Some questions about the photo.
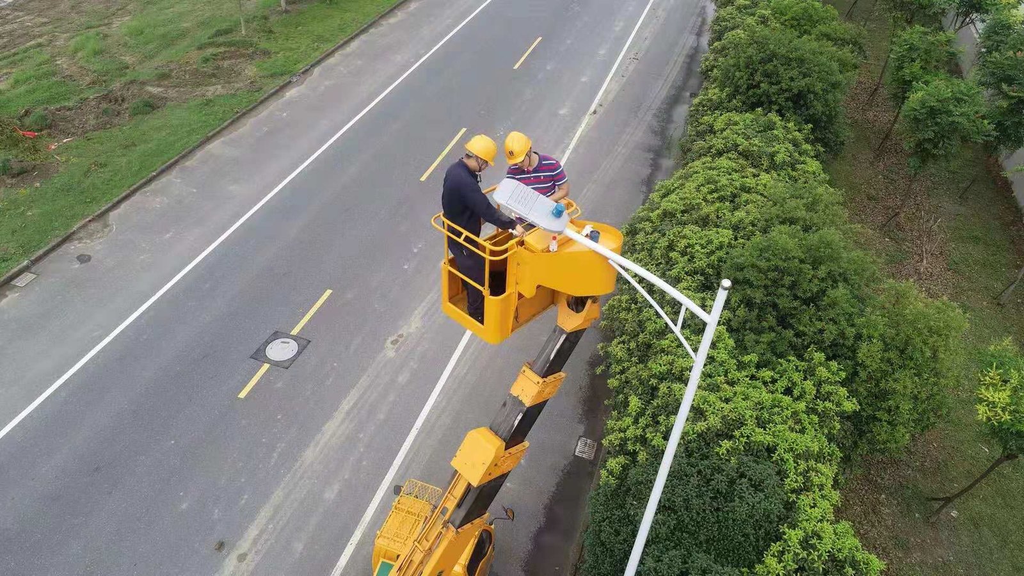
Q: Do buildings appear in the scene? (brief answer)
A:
No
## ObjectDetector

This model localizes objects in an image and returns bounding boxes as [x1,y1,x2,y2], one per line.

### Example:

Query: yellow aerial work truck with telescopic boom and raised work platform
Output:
[367,174,623,576]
